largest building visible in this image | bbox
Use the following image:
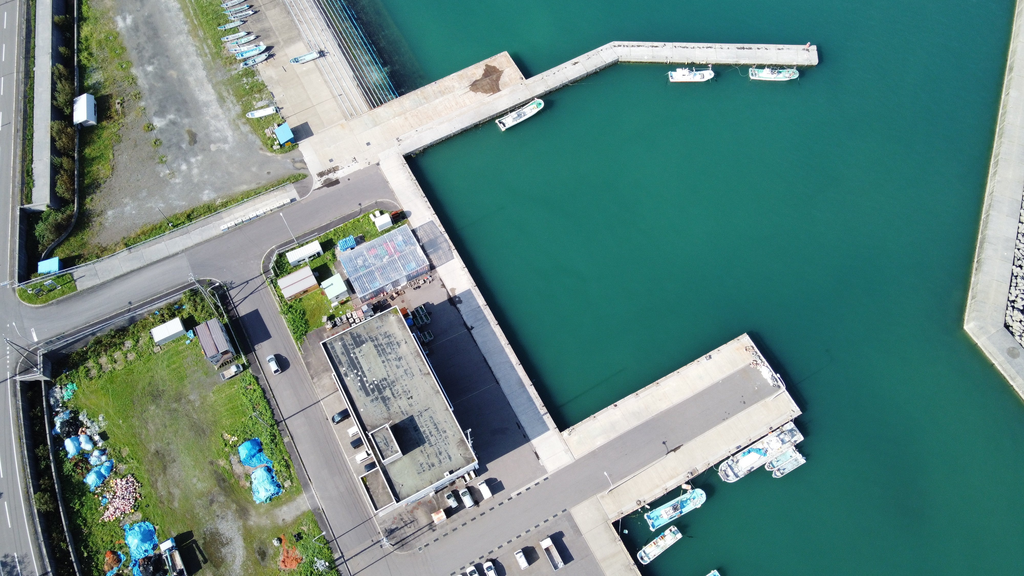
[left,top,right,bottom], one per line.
[321,307,478,515]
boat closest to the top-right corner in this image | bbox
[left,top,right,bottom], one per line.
[747,63,800,82]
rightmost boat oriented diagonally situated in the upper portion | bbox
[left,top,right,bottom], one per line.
[497,101,543,133]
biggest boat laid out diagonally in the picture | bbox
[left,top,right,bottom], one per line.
[717,421,803,478]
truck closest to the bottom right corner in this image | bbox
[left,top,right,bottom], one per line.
[536,533,567,574]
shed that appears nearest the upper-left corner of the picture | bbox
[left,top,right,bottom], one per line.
[72,94,102,133]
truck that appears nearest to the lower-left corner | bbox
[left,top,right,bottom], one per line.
[158,540,186,576]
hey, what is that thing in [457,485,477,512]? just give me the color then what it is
white car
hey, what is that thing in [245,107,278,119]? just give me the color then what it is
white boat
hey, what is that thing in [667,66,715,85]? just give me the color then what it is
white boat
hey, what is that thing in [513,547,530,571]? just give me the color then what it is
white vehicle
